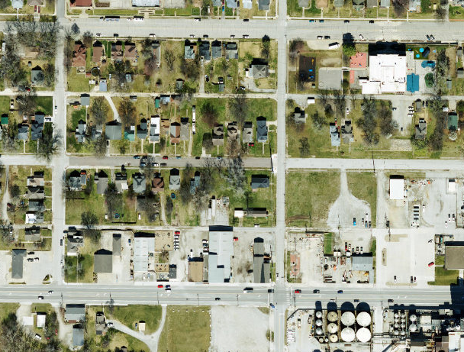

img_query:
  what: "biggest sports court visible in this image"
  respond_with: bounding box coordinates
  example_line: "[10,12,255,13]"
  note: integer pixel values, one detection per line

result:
[318,67,342,89]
